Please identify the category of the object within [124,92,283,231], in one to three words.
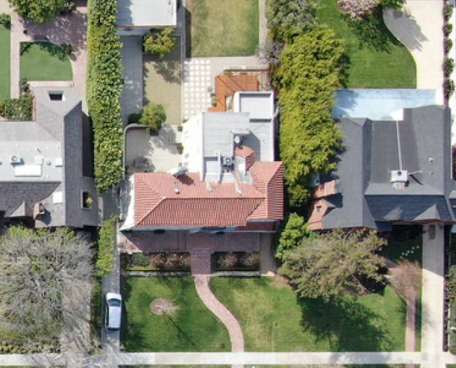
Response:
house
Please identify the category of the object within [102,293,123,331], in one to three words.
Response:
vehicle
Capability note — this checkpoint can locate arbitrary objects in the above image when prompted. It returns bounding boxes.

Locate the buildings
[124,92,283,231]
[111,0,176,36]
[296,106,456,232]
[0,86,101,226]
